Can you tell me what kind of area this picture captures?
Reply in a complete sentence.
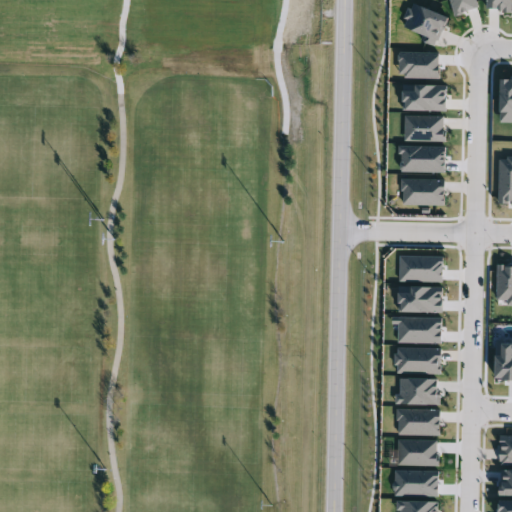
The area seen from above is a sports ground.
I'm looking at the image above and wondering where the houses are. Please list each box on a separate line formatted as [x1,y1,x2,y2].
[499,78,512,123]
[498,157,512,205]
[391,470,440,498]
[396,378,441,406]
[498,436,512,463]
[396,408,440,437]
[400,178,445,206]
[394,347,442,375]
[487,0,512,14]
[452,0,482,22]
[402,84,447,112]
[400,254,444,282]
[497,468,512,497]
[398,440,440,467]
[497,500,512,512]
[496,264,512,304]
[494,342,512,382]
[398,316,442,344]
[404,115,446,142]
[398,52,441,80]
[403,4,447,47]
[398,286,443,313]
[396,146,446,173]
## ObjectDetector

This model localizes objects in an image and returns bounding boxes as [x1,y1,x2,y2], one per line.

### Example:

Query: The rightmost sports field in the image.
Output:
[127,75,268,512]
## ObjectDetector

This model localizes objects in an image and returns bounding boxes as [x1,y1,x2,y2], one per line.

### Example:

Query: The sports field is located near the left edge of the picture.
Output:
[0,76,103,512]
